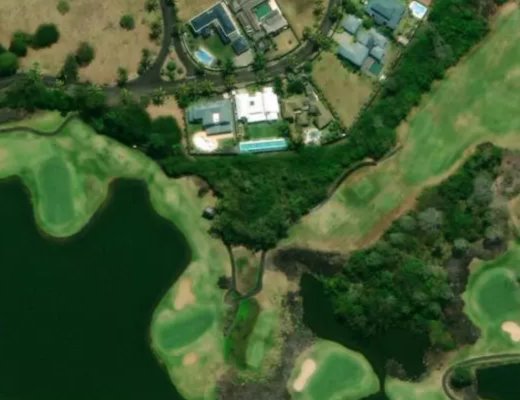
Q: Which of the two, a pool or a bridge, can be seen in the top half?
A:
pool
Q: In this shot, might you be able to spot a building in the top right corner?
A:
Yes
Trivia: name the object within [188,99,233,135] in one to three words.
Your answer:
building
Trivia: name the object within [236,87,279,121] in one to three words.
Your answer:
house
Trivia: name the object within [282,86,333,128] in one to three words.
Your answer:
house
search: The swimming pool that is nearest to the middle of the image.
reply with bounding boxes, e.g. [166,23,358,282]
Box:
[240,139,286,154]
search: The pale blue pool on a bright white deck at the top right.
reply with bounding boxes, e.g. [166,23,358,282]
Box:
[409,1,427,19]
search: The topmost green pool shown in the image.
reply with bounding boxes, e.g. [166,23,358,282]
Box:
[253,2,272,19]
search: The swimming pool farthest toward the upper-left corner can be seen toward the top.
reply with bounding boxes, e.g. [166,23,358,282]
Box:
[194,46,217,67]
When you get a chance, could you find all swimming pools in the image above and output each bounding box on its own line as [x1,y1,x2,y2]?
[240,139,286,154]
[194,46,217,67]
[409,1,427,19]
[368,60,384,76]
[253,2,272,19]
